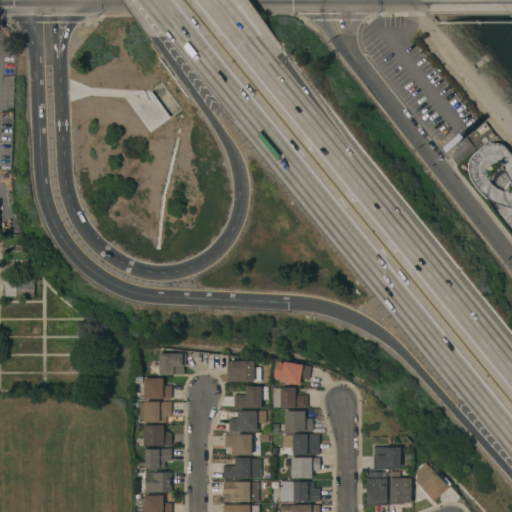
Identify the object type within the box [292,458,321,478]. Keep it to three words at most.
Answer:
house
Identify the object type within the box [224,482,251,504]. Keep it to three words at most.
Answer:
house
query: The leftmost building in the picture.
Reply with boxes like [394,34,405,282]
[4,279,34,297]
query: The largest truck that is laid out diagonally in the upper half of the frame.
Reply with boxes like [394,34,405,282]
[260,134,290,170]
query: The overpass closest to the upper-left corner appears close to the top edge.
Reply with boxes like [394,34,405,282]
[124,0,279,44]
